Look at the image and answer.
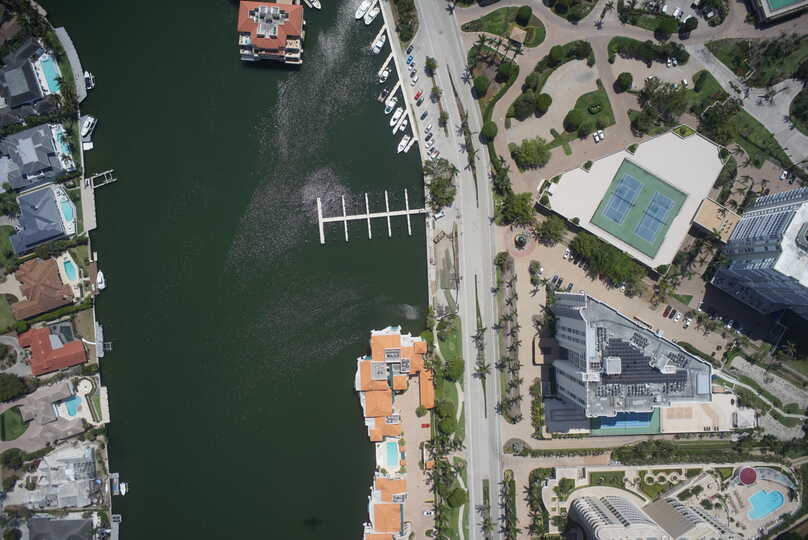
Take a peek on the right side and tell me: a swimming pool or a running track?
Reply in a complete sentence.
There is a swimming pool on the right side.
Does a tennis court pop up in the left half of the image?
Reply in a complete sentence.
No, there is no tennis court in the left half of the image.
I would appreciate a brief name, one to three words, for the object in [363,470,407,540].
building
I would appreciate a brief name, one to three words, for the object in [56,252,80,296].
swimming pool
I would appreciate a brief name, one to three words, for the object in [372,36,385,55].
boat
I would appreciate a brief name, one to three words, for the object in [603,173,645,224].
tennis court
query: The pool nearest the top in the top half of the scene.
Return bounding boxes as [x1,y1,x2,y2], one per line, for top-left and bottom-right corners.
[36,53,63,95]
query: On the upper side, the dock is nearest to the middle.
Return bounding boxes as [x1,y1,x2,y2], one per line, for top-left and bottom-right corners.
[316,189,428,243]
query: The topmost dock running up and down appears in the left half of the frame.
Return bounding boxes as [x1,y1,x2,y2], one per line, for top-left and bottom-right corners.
[80,178,98,231]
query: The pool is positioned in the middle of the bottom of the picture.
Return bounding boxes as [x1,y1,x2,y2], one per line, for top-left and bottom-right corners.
[376,438,405,473]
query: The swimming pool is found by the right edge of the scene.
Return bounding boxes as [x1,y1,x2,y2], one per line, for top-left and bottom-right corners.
[748,489,786,521]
